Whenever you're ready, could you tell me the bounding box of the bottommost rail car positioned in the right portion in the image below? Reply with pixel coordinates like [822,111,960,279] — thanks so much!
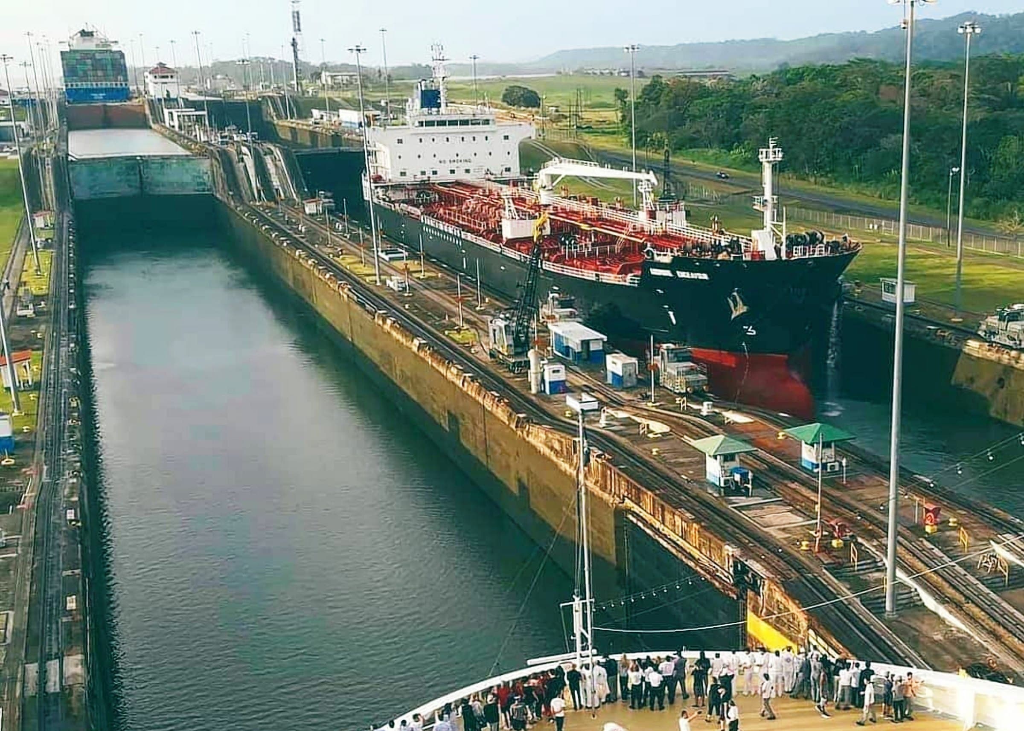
[648,349,714,392]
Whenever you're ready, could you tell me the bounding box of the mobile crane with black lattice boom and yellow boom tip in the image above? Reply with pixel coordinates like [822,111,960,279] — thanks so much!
[500,215,552,366]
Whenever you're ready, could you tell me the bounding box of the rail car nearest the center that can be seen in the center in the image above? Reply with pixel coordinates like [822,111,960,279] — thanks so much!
[535,292,576,320]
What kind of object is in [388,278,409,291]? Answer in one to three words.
vehicle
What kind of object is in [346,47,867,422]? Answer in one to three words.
ship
